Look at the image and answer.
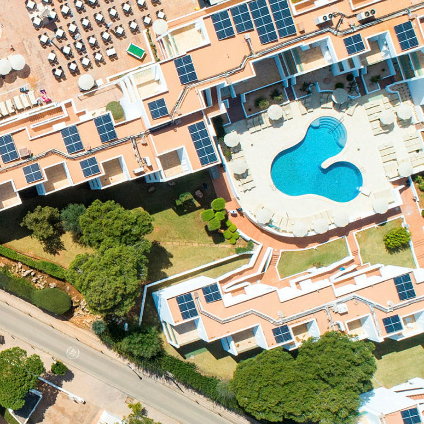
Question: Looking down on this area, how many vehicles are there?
none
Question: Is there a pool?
Yes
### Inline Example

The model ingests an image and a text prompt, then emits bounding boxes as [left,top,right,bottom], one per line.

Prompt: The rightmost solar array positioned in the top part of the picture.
[393,22,419,50]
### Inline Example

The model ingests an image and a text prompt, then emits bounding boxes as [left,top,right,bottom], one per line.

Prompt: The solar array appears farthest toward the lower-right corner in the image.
[401,406,423,424]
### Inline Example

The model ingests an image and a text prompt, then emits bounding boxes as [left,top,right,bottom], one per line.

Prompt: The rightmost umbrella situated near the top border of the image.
[151,18,168,36]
